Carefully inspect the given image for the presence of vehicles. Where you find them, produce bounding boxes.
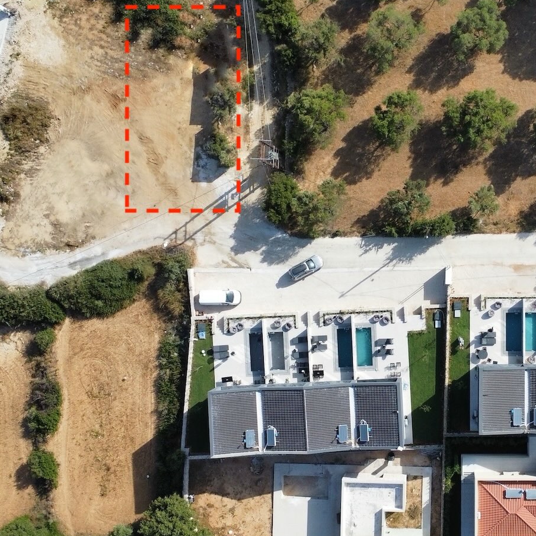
[199,288,241,307]
[285,255,323,282]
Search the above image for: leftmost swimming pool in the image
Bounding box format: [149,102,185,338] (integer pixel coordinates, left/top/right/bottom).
[243,326,267,377]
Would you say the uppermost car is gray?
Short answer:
Yes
